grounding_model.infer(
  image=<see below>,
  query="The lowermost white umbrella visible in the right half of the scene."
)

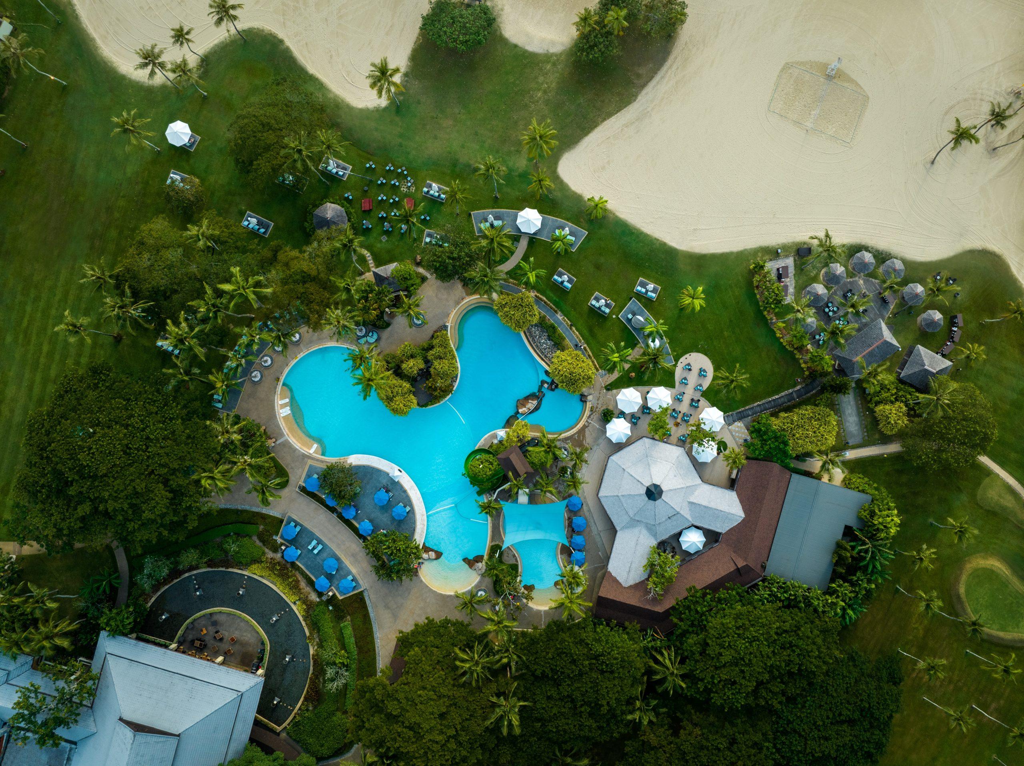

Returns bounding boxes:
[678,525,705,553]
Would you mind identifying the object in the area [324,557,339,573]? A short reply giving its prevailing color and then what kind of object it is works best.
blue umbrella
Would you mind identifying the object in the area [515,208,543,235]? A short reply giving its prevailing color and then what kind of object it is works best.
white umbrella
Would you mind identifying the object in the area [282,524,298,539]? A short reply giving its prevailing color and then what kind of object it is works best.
blue umbrella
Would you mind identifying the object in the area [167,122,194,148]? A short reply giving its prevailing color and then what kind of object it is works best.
white umbrella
